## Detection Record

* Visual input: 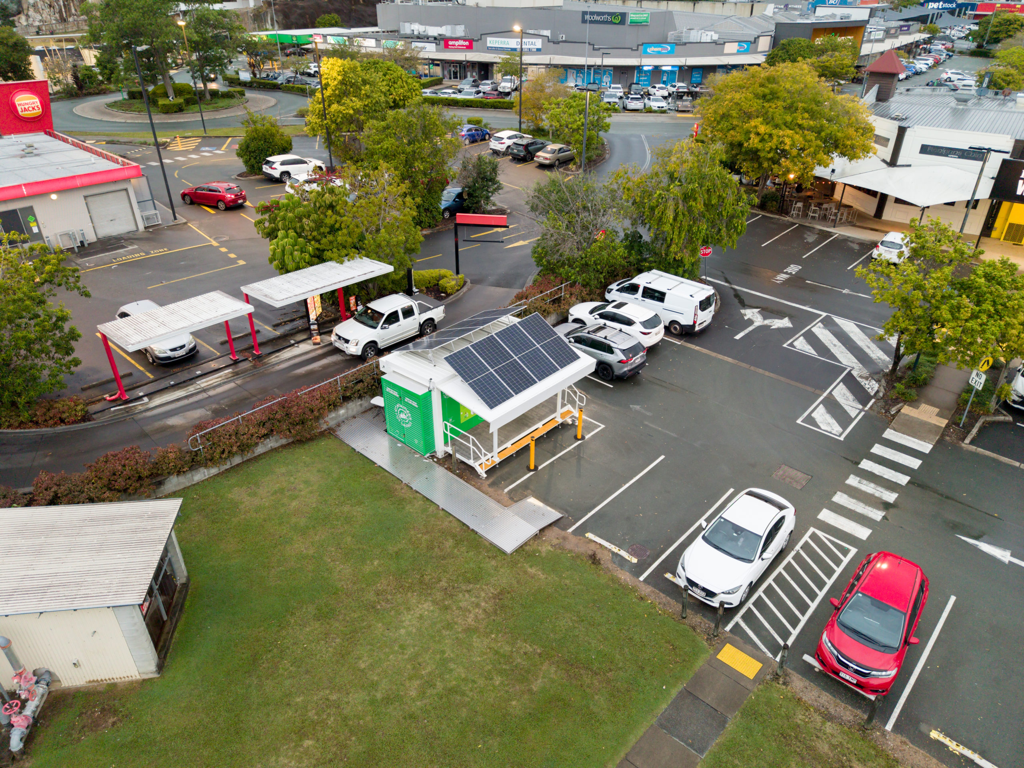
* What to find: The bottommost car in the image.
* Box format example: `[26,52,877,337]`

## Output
[816,557,928,702]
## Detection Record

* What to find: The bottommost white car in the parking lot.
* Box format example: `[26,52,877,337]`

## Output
[678,490,804,612]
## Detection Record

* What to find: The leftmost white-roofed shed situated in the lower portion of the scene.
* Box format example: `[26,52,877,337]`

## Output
[0,497,201,697]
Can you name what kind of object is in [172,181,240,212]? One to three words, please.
car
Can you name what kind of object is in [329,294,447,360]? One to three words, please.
truck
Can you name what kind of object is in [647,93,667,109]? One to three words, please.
car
